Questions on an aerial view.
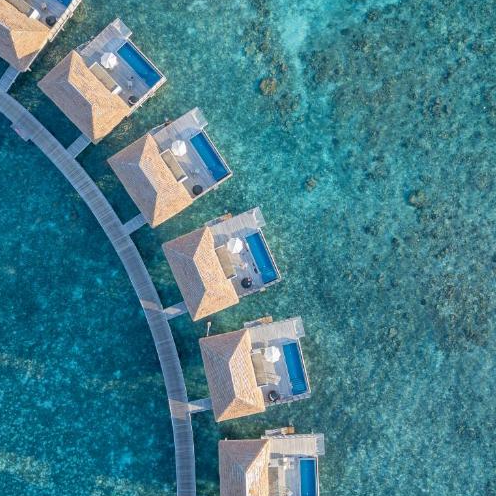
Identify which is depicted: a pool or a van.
pool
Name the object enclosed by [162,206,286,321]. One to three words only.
house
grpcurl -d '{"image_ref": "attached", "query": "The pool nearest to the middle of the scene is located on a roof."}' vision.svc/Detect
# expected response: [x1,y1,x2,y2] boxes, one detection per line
[244,228,282,287]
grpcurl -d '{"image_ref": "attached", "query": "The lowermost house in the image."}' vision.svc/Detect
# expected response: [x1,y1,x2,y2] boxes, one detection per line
[220,424,327,496]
